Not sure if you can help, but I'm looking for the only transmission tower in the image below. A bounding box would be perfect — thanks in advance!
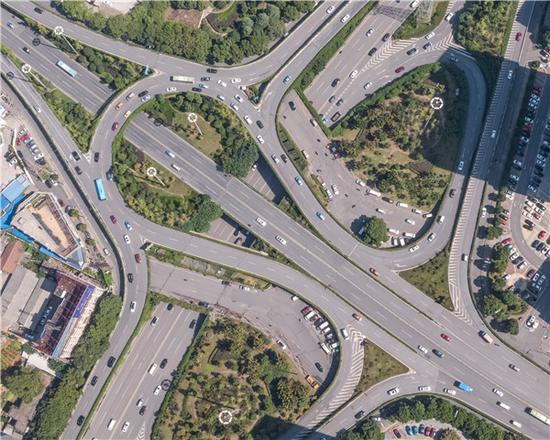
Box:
[416,0,440,29]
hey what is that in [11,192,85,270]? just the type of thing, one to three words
building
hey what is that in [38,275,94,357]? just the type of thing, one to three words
building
